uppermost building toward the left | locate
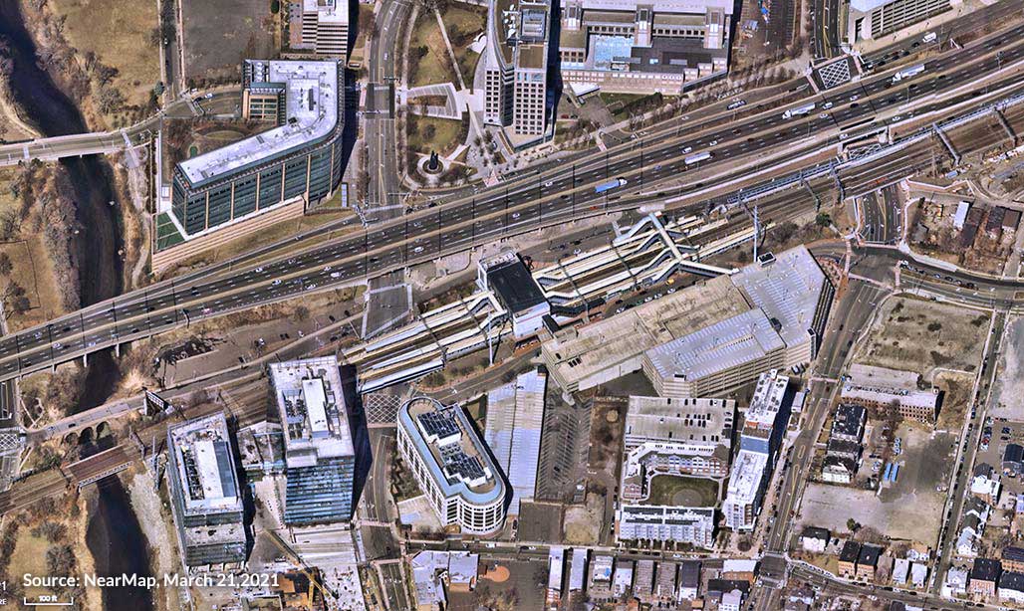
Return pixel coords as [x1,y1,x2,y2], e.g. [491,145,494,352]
[302,0,349,57]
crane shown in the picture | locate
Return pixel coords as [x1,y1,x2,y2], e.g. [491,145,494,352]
[262,528,339,611]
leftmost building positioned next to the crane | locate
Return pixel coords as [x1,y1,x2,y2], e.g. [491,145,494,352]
[167,411,247,574]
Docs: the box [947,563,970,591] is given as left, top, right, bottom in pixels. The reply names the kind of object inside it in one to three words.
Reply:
house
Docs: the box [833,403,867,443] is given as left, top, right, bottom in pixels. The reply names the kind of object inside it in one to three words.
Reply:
house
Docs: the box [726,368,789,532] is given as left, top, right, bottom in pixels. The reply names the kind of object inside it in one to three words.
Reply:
building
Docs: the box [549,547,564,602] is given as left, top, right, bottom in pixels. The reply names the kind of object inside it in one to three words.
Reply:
building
